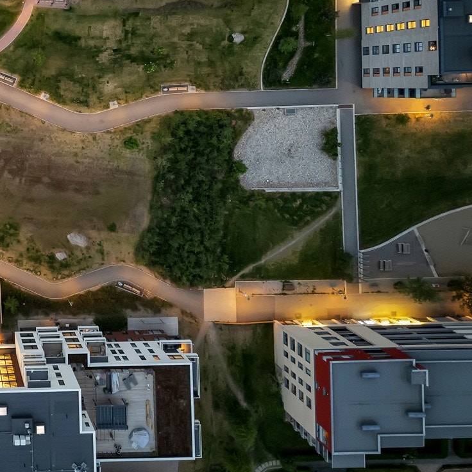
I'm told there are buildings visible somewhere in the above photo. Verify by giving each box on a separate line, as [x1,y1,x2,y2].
[275,319,472,468]
[0,323,201,472]
[359,0,472,101]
